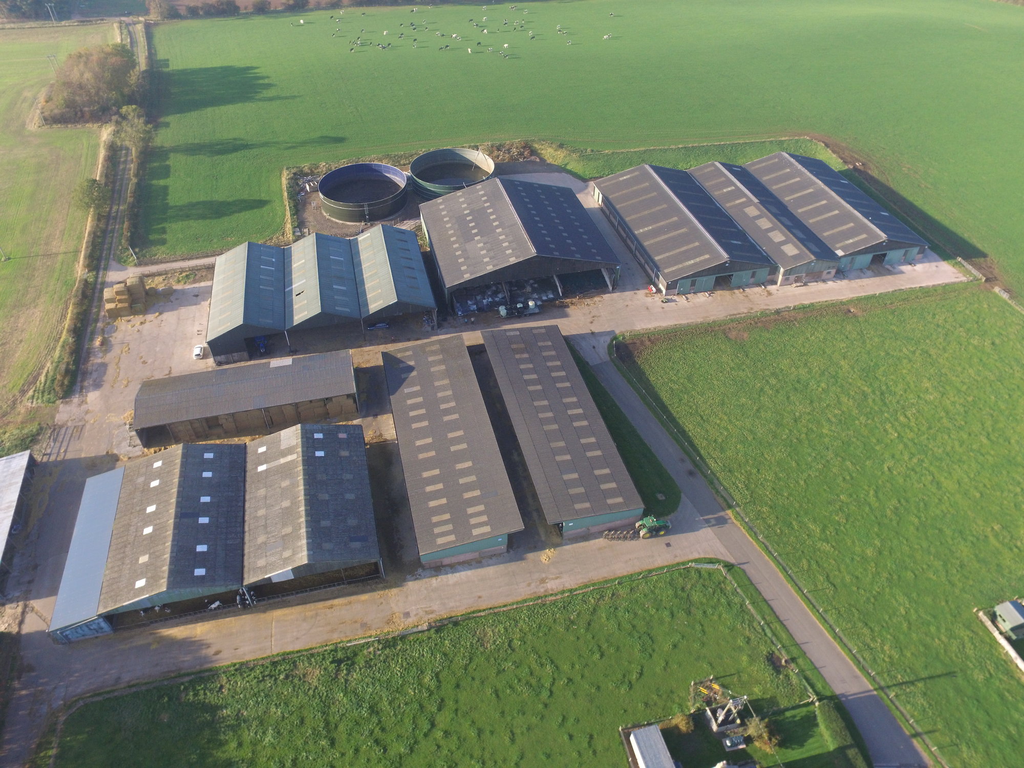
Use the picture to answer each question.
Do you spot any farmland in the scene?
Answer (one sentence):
Yes, the picture does contain farmland.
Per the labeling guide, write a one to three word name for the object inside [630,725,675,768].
shed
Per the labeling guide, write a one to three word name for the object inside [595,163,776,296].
building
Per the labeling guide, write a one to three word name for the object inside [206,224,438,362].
shed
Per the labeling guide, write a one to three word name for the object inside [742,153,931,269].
building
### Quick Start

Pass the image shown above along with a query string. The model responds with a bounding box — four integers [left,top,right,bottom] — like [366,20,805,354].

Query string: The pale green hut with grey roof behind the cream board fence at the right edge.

[988,601,1024,651]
